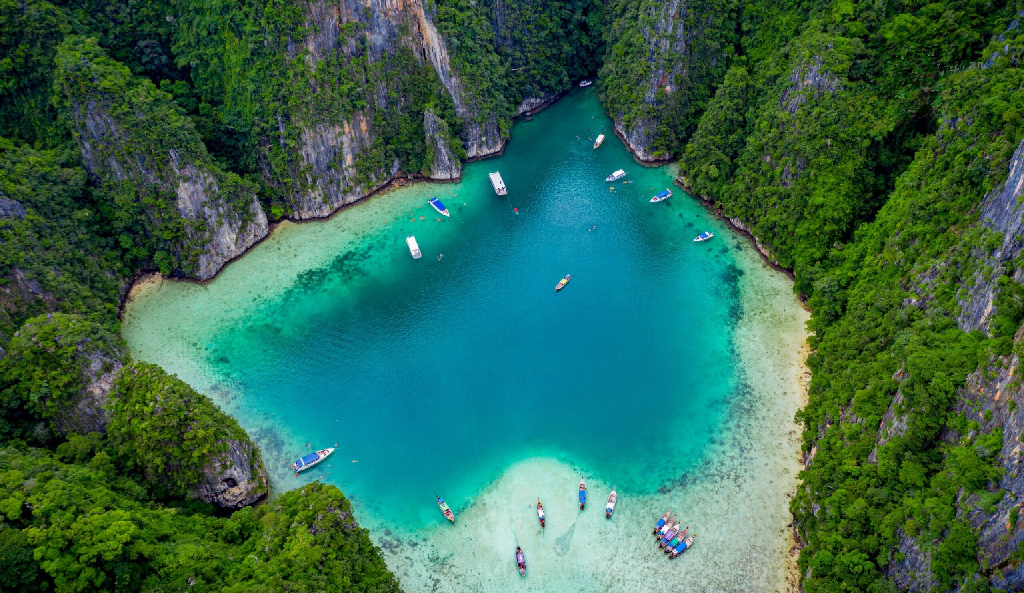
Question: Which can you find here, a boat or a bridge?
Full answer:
The one in the frame is a boat.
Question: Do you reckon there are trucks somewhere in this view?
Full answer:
No, I can see no truck in this picture.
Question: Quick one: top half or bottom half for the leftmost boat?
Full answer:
It is in the bottom half that the leftmost boat appears.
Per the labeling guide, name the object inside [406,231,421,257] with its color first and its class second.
white boat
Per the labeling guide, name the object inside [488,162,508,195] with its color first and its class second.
white boat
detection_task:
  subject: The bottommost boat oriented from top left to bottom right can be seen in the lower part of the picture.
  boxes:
[435,495,453,521]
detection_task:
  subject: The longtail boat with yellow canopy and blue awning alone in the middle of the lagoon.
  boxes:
[555,272,572,289]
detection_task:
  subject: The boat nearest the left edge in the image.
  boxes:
[292,446,334,471]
